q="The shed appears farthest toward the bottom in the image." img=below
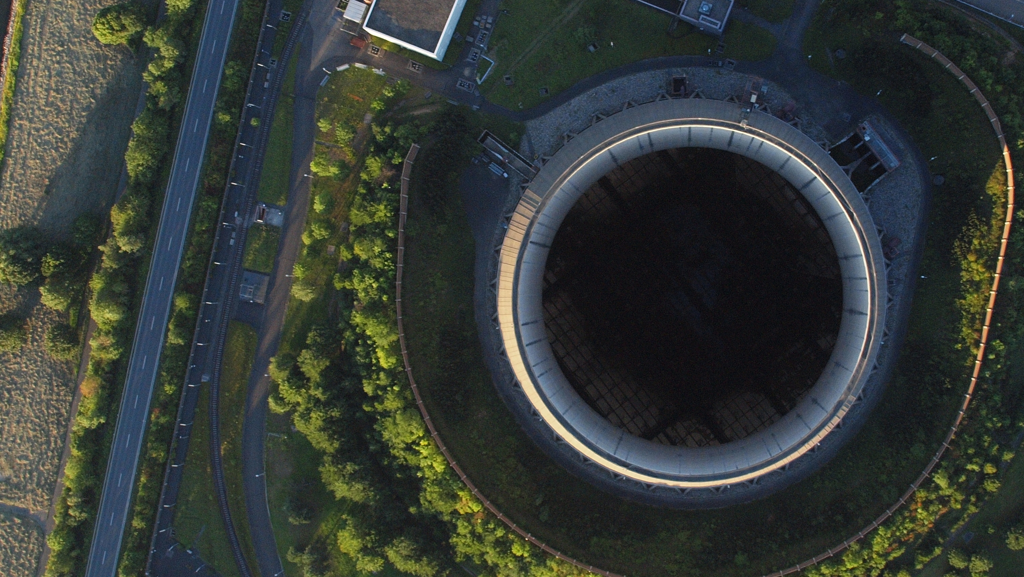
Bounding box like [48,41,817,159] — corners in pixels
[239,271,272,303]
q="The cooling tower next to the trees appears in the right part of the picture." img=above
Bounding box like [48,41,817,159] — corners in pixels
[486,86,899,499]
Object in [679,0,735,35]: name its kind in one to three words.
building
